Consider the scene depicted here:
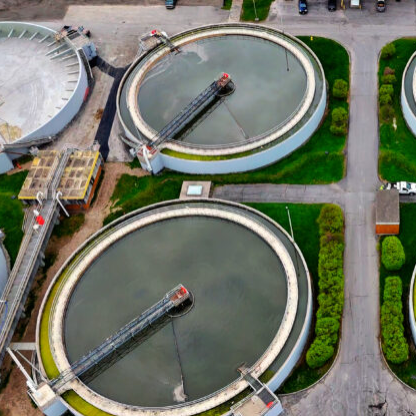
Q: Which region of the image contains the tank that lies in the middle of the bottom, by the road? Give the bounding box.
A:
[24,198,315,416]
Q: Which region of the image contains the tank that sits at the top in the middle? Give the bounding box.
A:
[116,24,328,177]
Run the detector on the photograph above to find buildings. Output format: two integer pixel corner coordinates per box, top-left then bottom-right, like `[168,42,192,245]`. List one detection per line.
[375,191,400,232]
[17,136,108,213]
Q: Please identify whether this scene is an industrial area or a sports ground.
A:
industrial area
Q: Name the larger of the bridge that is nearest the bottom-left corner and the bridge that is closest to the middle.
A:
the bridge that is nearest the bottom-left corner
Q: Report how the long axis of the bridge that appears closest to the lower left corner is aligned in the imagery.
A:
diagonally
